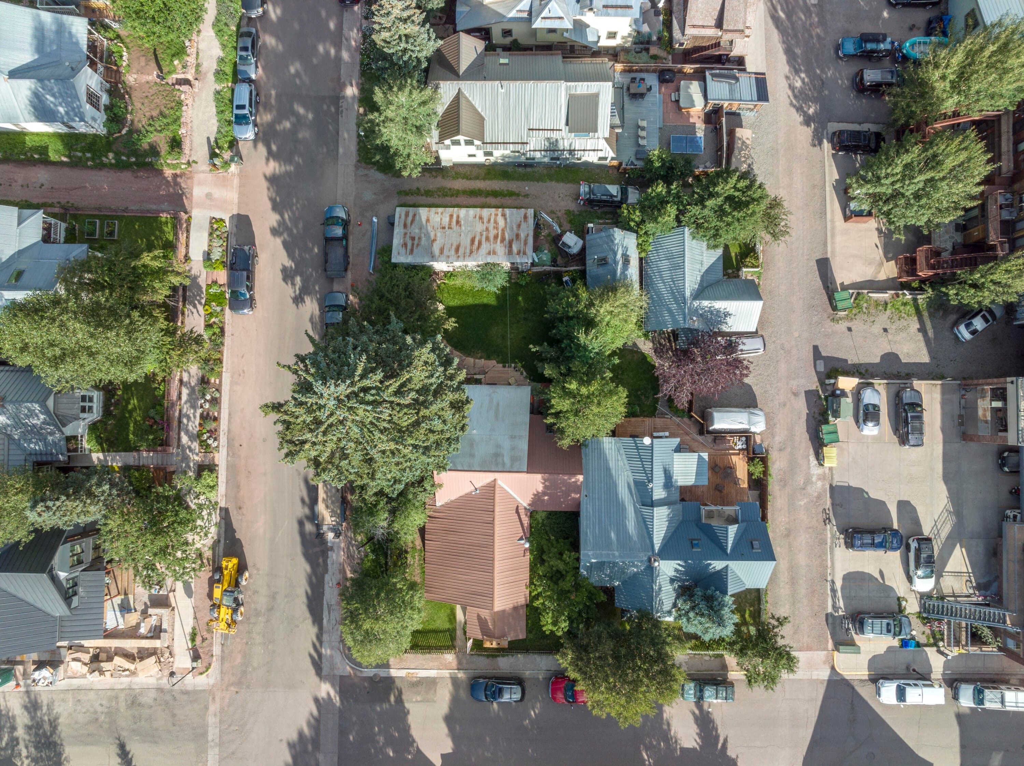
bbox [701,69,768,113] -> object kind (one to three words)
shed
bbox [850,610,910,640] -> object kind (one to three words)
car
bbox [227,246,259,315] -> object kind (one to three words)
vehicle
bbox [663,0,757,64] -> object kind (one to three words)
house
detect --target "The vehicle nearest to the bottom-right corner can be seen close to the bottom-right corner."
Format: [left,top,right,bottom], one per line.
[947,677,1024,710]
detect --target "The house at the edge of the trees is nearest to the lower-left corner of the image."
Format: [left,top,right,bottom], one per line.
[0,523,121,658]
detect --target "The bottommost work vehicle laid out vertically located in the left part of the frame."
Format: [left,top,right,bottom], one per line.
[210,561,249,644]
